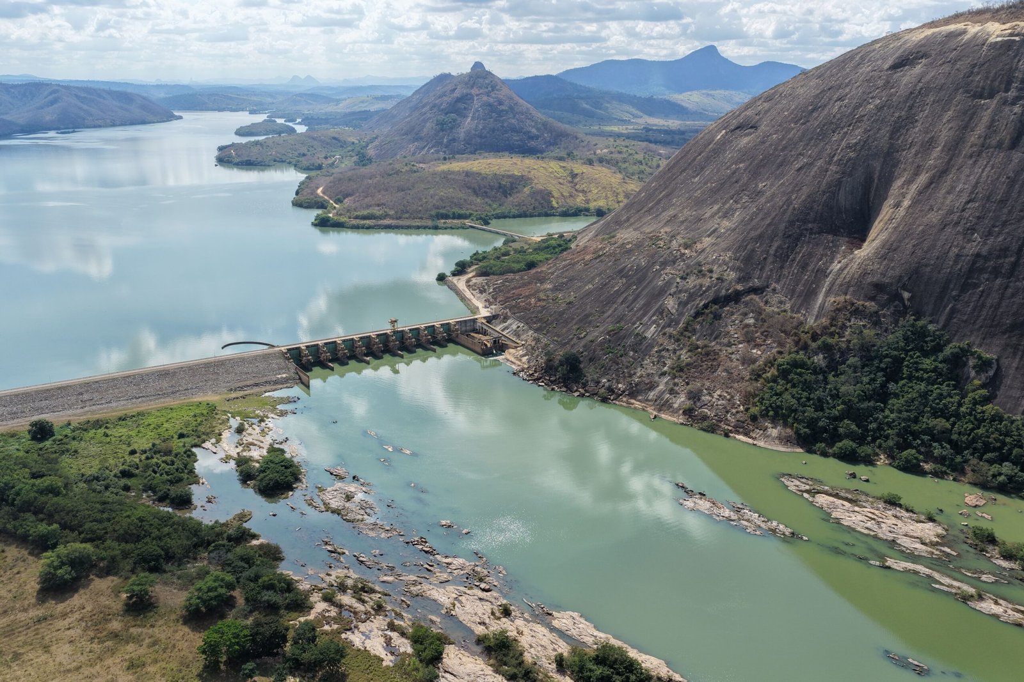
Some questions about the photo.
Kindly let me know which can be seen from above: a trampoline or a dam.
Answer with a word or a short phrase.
dam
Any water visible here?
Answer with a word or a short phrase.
Yes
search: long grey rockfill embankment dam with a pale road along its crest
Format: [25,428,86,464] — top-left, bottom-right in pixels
[0,345,301,430]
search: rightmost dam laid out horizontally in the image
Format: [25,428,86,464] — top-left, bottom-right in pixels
[280,312,489,385]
